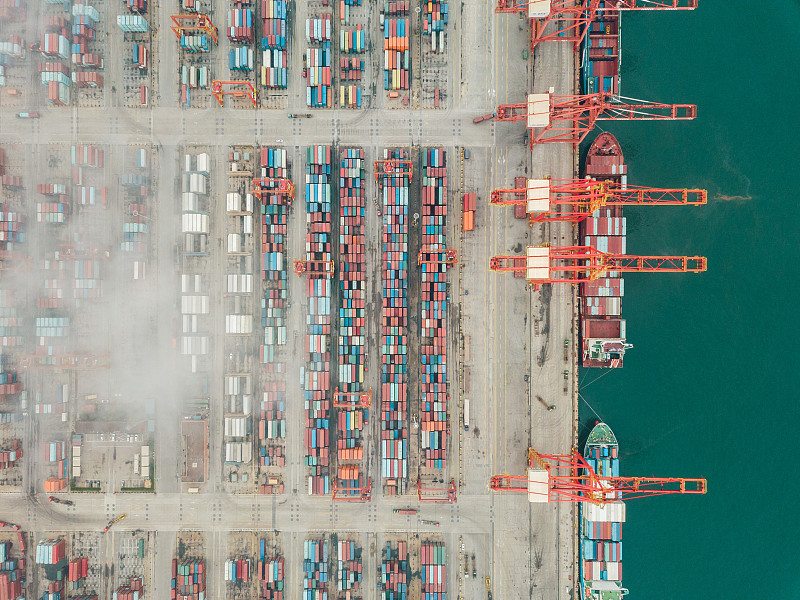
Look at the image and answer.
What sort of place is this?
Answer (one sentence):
This looks like a port.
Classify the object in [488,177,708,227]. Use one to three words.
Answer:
container crane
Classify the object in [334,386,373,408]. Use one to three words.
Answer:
crane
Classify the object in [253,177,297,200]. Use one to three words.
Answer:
crane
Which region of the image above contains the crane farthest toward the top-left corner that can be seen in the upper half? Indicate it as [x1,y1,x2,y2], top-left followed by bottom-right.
[170,14,217,45]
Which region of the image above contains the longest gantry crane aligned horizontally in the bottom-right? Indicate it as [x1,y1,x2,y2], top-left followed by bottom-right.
[488,444,708,503]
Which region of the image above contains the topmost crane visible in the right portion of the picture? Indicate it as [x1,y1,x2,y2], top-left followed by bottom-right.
[495,0,698,55]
